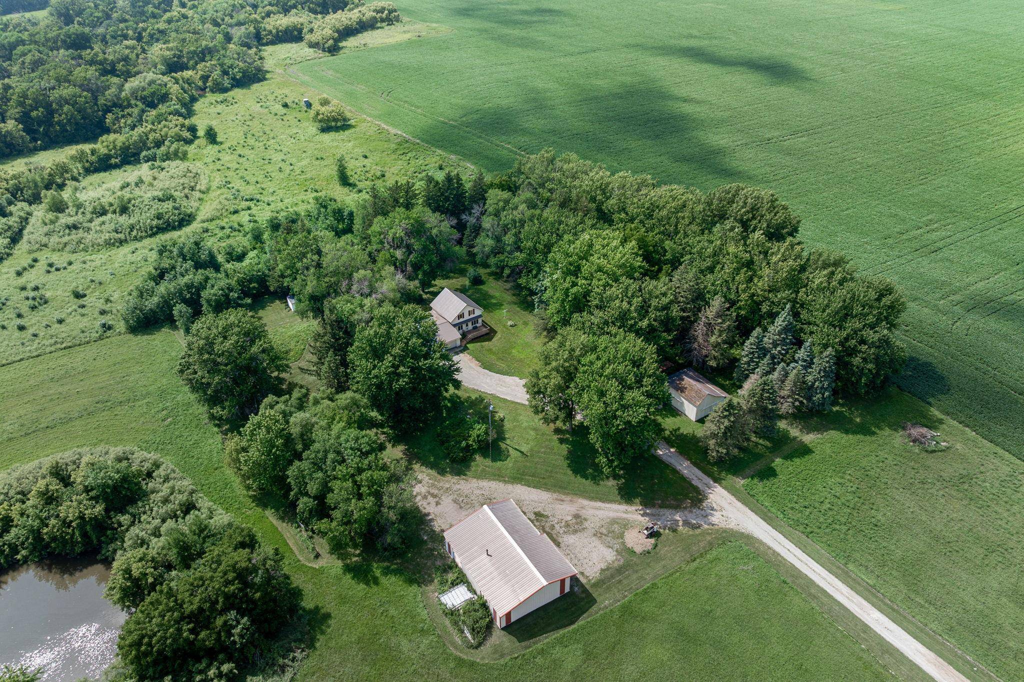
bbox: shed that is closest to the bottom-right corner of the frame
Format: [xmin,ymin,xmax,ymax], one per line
[665,372,726,421]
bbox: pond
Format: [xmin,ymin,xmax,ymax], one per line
[0,545,149,682]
